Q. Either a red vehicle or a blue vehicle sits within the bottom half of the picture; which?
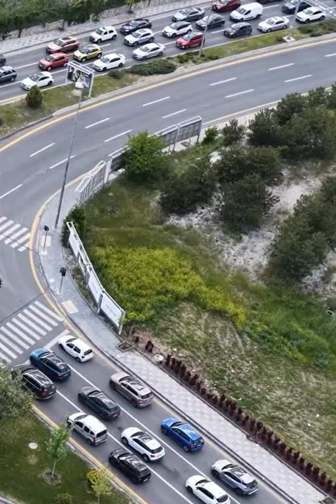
blue vehicle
